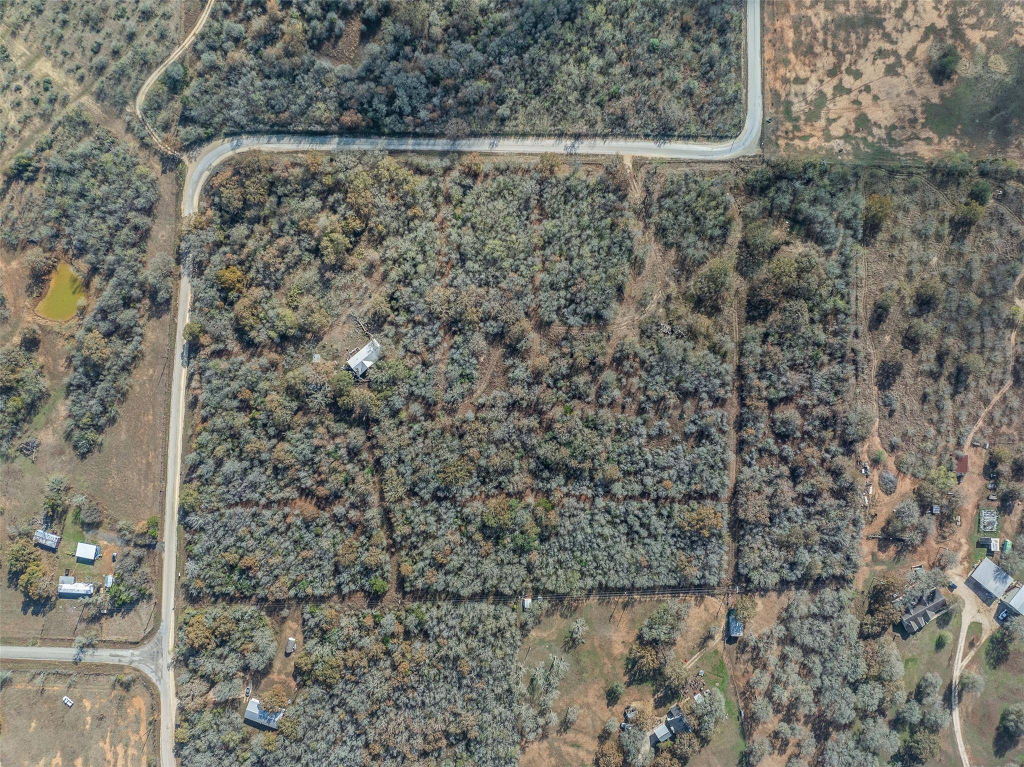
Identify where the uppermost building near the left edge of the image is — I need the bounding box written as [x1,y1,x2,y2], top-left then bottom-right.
[33,529,63,548]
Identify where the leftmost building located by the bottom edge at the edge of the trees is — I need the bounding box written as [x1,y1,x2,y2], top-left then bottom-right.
[244,697,285,730]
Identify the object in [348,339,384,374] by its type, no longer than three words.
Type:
house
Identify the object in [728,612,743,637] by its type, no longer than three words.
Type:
shed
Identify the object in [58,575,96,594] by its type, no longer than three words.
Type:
house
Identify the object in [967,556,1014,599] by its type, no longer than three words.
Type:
barn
